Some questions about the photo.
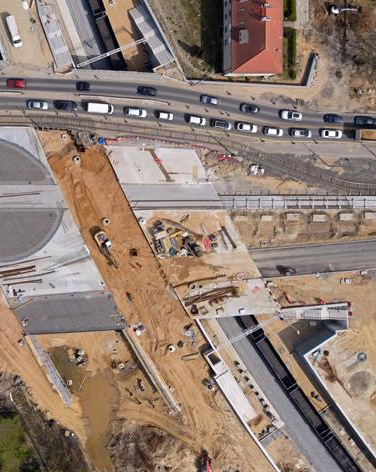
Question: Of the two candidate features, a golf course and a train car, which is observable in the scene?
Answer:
train car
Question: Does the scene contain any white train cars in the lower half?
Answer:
No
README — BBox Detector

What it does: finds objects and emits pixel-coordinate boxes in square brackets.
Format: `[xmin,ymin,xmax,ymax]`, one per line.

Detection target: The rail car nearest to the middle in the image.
[234,316,260,338]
